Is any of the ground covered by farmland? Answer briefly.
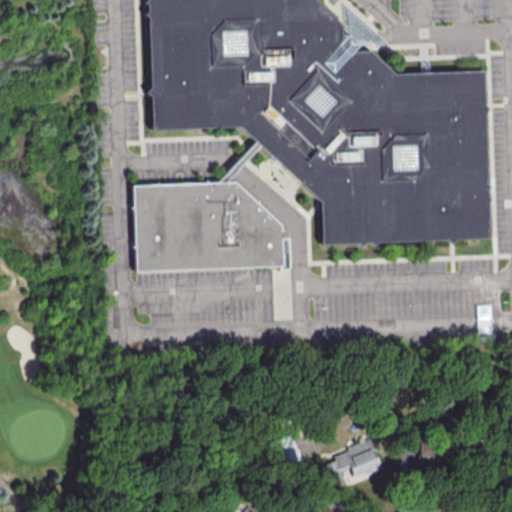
No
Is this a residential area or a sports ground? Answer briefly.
residential area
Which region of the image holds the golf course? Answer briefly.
bottom left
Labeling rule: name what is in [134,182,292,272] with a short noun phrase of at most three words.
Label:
building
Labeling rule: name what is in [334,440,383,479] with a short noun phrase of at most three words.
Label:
house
